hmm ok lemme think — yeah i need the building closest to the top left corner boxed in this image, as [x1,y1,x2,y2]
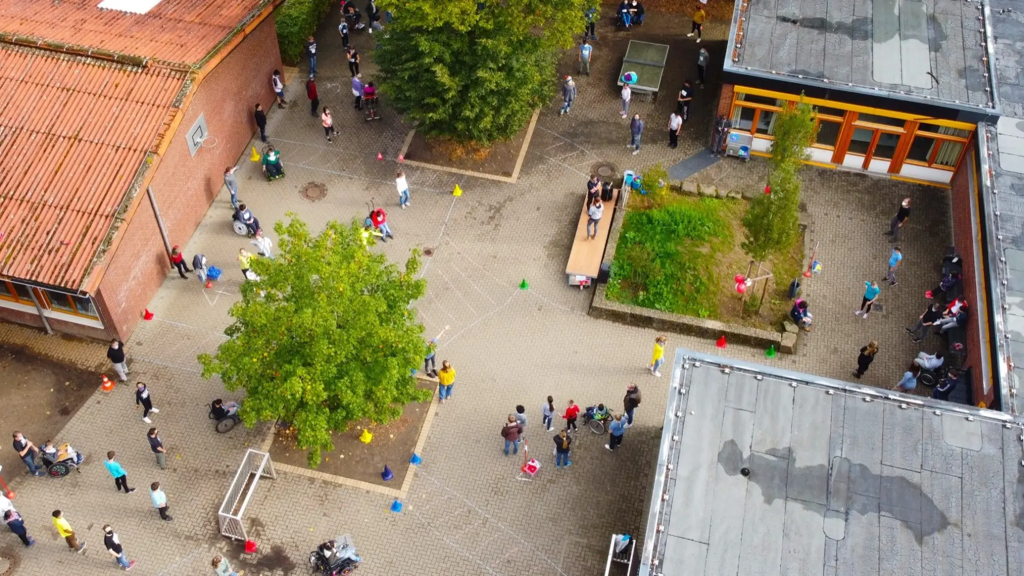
[0,0,283,345]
